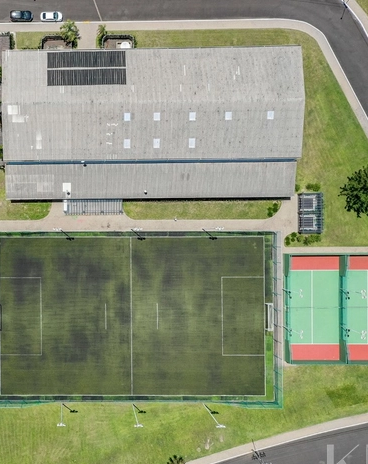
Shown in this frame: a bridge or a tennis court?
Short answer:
tennis court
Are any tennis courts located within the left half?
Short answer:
No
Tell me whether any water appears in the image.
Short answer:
No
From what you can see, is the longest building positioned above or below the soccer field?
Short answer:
above it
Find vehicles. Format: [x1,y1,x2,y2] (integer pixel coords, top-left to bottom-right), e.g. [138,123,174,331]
[9,8,32,20]
[40,8,63,20]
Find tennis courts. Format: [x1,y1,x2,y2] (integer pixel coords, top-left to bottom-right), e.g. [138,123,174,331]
[284,254,348,363]
[340,254,368,363]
